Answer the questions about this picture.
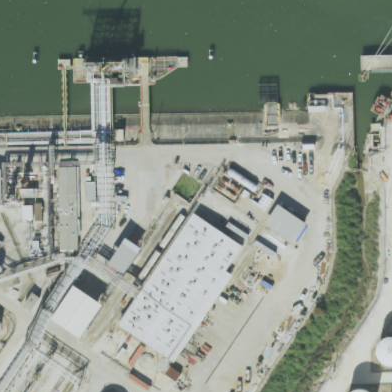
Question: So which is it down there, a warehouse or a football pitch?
warehouse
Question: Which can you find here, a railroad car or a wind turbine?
railroad car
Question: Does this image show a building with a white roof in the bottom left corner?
Yes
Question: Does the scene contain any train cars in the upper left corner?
No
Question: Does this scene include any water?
Yes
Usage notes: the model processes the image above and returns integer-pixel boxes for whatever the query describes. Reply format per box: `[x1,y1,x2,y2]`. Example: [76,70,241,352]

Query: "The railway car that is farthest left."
[138,250,162,281]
